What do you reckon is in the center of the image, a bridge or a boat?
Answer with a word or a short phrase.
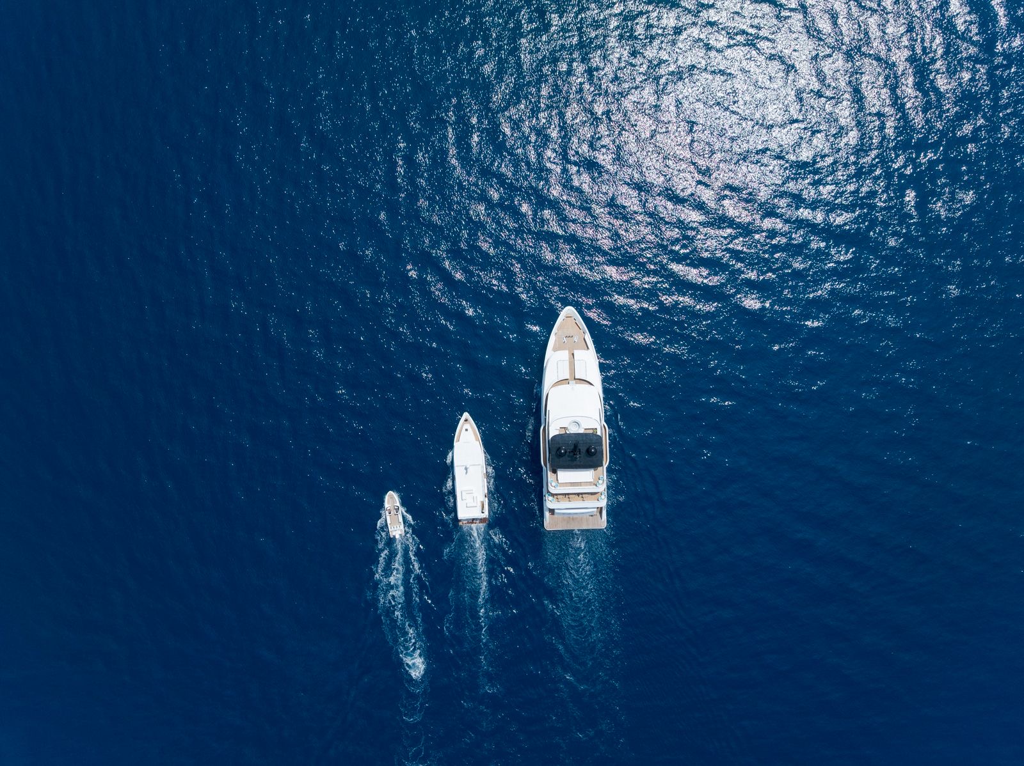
boat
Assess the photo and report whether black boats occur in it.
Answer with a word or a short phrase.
No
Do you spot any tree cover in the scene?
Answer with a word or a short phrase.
No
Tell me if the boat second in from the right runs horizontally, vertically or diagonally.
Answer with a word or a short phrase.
vertically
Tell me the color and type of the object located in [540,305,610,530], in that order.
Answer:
white boat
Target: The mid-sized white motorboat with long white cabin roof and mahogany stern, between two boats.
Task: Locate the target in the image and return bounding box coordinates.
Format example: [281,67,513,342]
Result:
[453,411,488,527]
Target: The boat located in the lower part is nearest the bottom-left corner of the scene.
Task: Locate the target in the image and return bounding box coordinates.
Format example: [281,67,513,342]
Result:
[385,490,405,539]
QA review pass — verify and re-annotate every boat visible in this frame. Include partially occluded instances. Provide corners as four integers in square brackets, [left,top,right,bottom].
[453,411,488,527]
[385,490,405,539]
[540,305,610,530]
